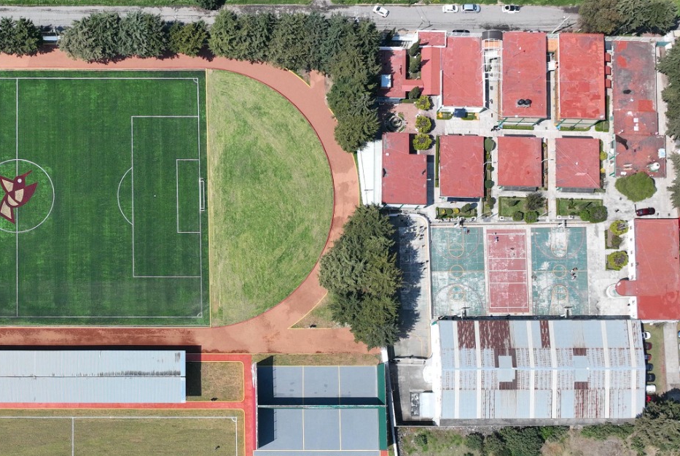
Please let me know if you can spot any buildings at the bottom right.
Yes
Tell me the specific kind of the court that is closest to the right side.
basketball court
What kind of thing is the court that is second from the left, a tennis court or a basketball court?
basketball court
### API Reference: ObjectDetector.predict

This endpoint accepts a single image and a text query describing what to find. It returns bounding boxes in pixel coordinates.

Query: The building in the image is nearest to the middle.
[380,133,427,209]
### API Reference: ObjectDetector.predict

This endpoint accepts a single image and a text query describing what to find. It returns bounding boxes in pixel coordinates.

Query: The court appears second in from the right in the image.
[486,229,529,312]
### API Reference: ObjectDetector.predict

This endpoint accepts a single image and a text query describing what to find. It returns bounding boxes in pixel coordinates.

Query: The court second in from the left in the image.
[433,227,485,316]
